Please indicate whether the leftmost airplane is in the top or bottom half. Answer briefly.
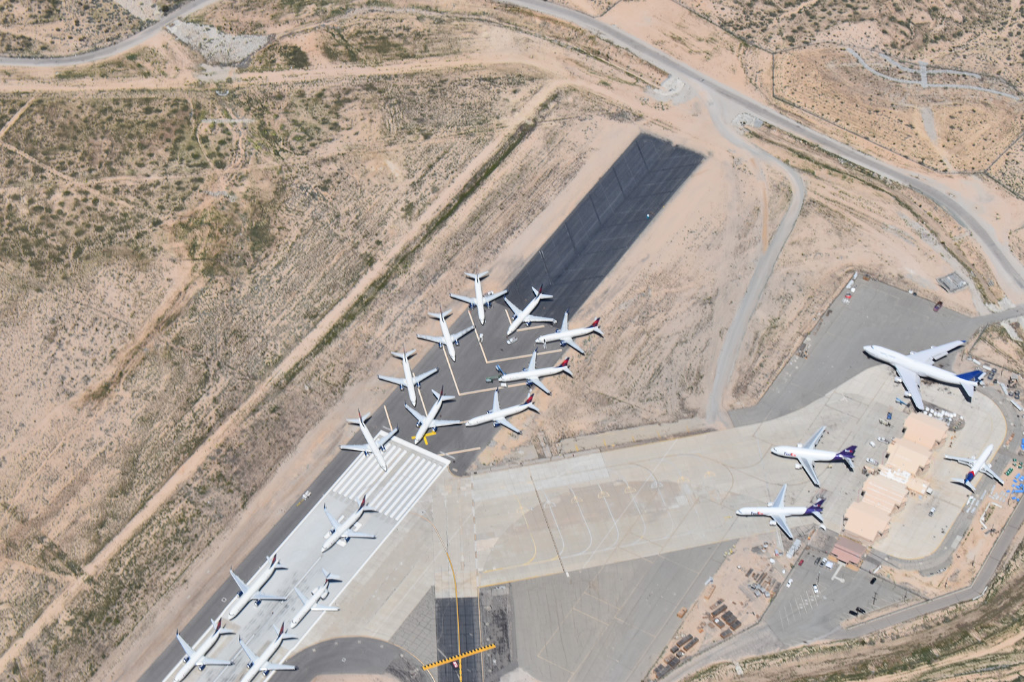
bottom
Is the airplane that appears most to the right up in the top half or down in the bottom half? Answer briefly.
bottom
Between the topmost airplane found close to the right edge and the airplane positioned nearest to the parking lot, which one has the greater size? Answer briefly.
the topmost airplane found close to the right edge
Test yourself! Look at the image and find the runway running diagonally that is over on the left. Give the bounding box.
[163,429,452,682]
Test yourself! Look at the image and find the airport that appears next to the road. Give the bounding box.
[139,133,1024,682]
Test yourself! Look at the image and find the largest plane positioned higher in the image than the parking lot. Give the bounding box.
[864,337,983,410]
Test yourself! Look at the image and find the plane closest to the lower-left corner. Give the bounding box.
[173,619,234,682]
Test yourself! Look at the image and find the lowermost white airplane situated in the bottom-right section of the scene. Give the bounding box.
[736,485,823,538]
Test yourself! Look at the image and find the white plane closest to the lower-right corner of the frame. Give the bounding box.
[948,447,1003,485]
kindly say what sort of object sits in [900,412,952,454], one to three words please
hangar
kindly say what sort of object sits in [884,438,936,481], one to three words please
hangar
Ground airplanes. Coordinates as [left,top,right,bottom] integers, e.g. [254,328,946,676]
[864,337,983,410]
[498,346,571,393]
[448,272,509,325]
[173,619,234,682]
[339,410,397,471]
[229,556,287,620]
[376,343,438,406]
[404,386,462,444]
[416,304,475,362]
[771,424,857,484]
[536,307,602,352]
[504,285,556,335]
[736,485,823,538]
[240,624,299,682]
[322,497,378,553]
[948,447,1003,485]
[291,569,339,629]
[466,386,538,432]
